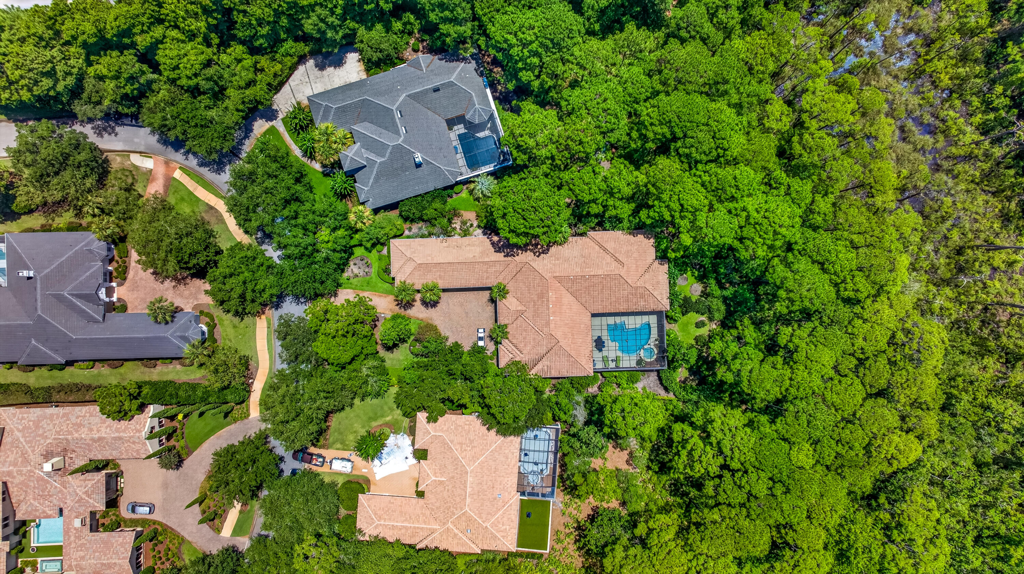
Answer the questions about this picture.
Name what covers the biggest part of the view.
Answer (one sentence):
What you mostly see from above here is trees.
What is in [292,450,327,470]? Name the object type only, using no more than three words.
vehicle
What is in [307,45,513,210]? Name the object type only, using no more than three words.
house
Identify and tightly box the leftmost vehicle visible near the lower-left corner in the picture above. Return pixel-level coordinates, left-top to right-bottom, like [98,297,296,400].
[126,501,156,516]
